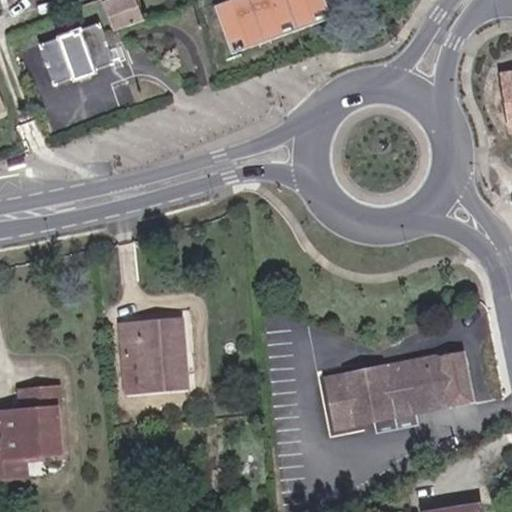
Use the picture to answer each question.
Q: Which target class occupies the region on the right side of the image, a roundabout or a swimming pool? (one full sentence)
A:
There is a roundabout on the right side of the image.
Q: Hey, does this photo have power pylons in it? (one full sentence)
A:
No, no power pylon is visible in the view.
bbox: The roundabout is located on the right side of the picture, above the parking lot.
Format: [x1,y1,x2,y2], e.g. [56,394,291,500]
[300,74,464,238]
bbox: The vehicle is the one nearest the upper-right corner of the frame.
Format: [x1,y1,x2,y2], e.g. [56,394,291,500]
[341,94,364,108]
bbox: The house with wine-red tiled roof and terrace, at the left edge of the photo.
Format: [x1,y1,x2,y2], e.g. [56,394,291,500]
[0,405,65,486]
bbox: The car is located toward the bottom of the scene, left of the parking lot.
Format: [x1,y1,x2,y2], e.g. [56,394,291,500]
[116,306,136,318]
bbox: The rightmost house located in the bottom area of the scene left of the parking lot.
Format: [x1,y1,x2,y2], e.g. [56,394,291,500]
[118,310,195,398]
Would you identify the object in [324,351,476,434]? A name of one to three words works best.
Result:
building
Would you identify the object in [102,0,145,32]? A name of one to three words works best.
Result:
house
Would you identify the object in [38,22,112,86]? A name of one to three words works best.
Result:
house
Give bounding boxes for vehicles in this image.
[242,165,264,176]
[116,306,136,318]
[341,94,364,108]
[416,487,434,497]
[8,0,31,18]
[462,304,473,325]
[438,438,454,448]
